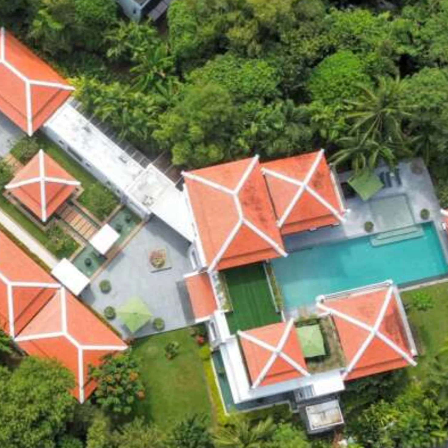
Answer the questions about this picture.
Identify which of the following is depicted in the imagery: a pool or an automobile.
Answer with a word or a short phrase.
pool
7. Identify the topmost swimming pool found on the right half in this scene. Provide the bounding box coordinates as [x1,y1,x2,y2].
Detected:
[368,192,416,232]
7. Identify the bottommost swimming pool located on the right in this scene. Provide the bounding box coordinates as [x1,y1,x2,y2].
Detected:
[267,217,448,316]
